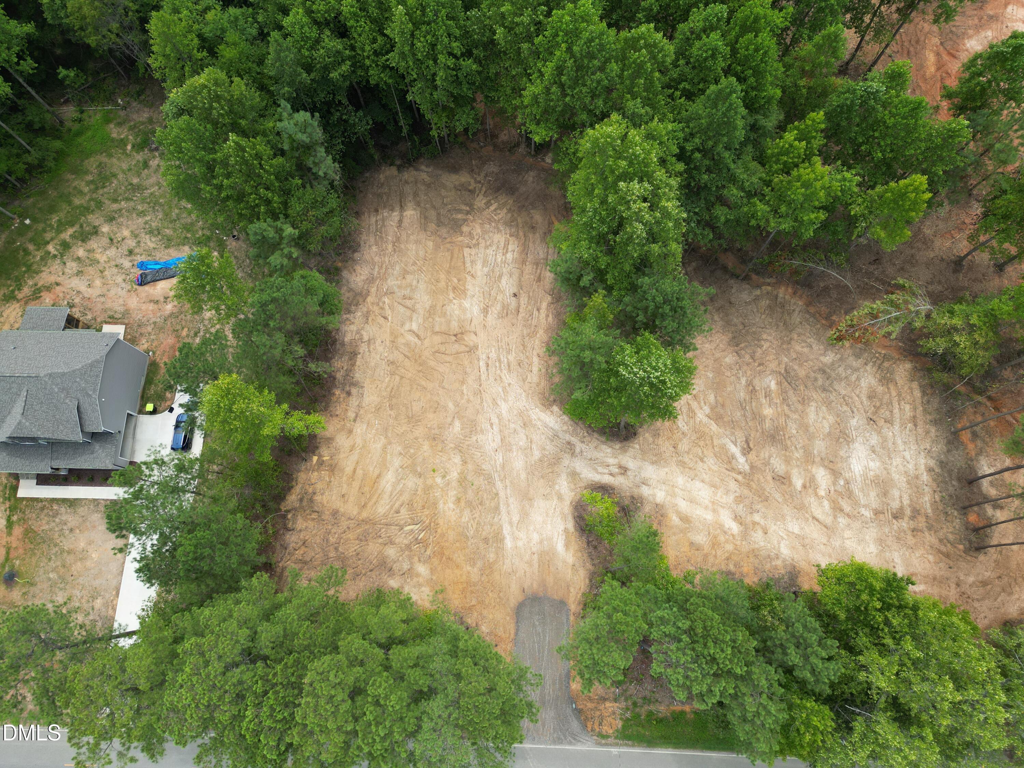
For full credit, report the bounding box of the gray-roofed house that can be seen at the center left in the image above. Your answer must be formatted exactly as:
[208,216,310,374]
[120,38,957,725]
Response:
[0,306,150,479]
